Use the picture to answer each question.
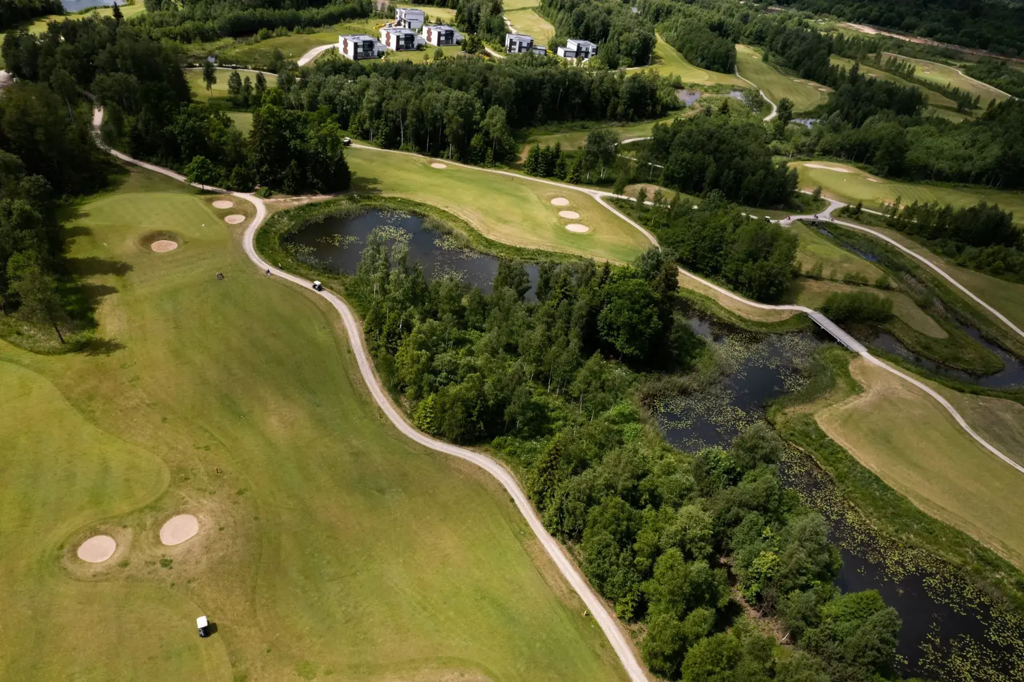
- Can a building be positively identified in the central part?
No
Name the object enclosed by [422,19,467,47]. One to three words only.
house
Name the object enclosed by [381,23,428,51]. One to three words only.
house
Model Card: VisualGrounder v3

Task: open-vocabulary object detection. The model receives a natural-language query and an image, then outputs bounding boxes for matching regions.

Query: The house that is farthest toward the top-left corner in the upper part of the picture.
[337,30,387,61]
